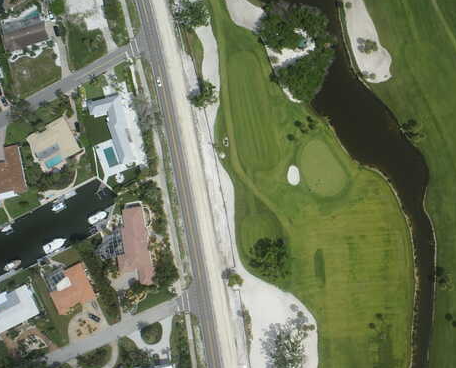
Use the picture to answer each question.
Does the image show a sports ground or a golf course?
golf course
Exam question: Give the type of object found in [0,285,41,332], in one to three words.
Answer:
house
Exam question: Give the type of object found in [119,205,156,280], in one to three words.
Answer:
house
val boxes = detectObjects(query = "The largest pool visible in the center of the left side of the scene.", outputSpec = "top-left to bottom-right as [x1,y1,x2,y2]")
[103,145,119,169]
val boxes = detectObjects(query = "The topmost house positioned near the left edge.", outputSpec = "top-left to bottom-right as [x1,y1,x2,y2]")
[1,19,50,51]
